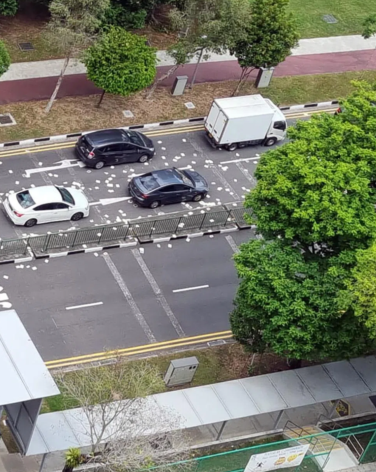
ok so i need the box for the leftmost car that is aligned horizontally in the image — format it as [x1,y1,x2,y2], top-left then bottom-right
[4,183,94,228]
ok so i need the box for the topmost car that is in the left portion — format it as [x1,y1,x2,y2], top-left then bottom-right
[75,127,161,170]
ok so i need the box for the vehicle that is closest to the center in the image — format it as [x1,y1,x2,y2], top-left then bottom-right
[128,166,214,210]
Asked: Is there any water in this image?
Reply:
No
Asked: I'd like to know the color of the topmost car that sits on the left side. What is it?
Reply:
black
